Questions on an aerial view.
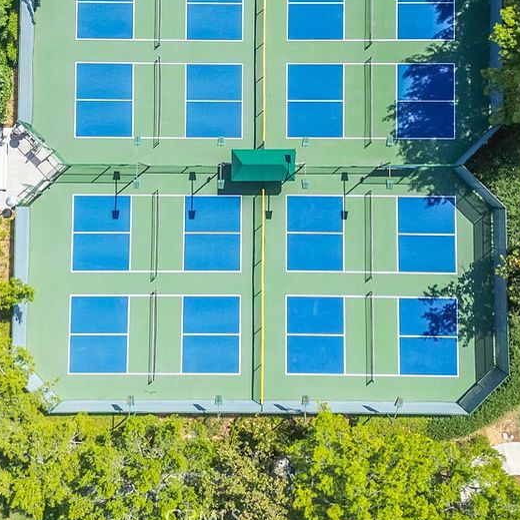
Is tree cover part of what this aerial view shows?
Yes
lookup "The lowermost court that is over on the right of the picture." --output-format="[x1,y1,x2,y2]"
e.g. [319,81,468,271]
[285,295,458,377]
